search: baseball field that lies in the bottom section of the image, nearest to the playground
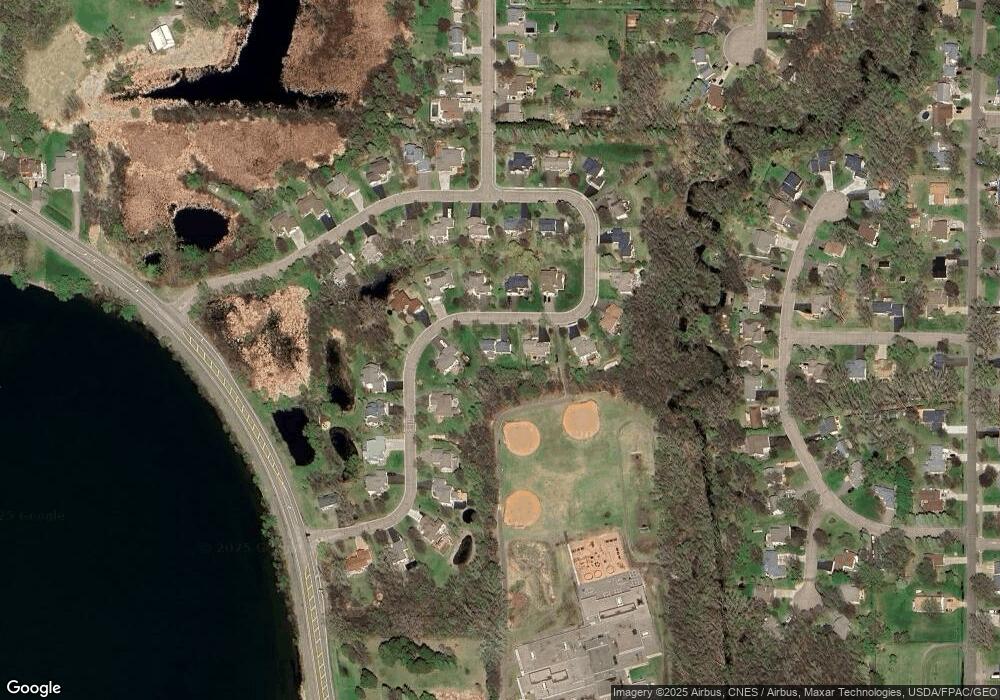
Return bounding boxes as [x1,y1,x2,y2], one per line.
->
[502,489,541,528]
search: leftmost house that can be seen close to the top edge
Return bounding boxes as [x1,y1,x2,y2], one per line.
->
[149,26,173,54]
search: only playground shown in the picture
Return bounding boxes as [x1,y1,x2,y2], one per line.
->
[567,532,629,584]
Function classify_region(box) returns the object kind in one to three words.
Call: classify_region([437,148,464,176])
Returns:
house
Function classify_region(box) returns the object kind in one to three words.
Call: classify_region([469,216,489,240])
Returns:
house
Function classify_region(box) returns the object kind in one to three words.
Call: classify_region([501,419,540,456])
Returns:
baseball field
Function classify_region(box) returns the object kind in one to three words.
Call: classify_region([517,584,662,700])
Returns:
building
